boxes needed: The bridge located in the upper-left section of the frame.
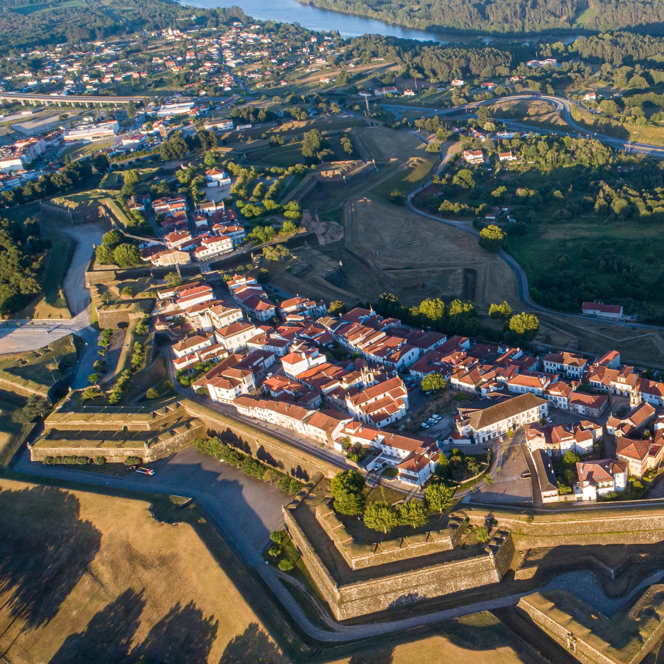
[0,93,152,107]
